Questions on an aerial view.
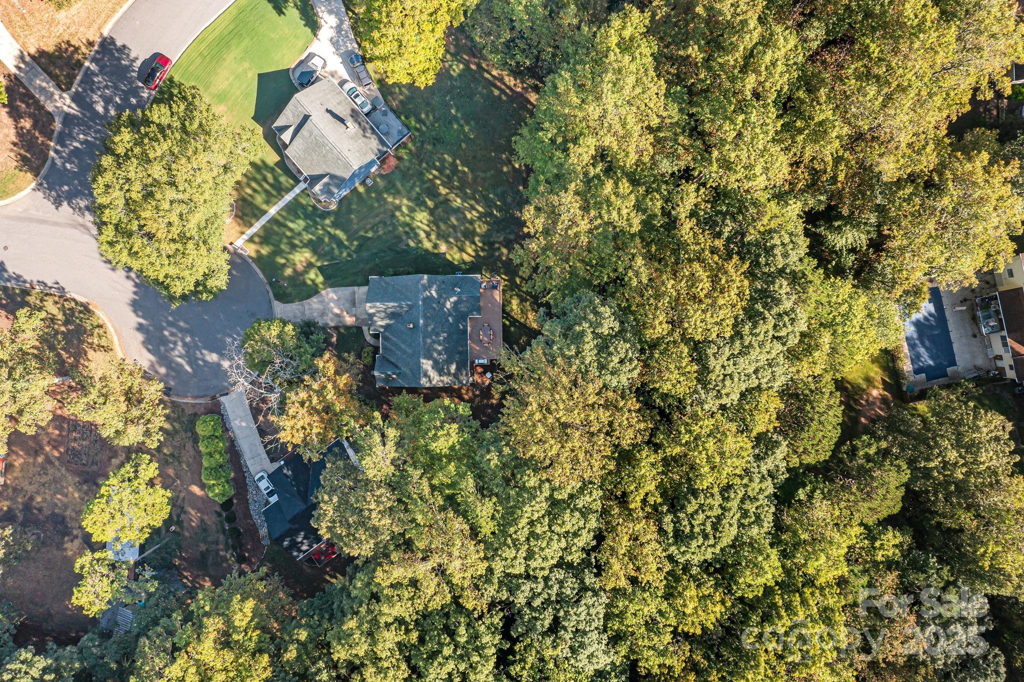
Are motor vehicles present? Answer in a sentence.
Yes, a motor vehicle appears in the view.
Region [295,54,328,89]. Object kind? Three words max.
car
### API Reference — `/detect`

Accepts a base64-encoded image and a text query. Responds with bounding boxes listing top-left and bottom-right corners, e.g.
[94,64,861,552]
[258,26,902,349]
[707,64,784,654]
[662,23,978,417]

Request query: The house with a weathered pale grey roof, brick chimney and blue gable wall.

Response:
[272,76,392,206]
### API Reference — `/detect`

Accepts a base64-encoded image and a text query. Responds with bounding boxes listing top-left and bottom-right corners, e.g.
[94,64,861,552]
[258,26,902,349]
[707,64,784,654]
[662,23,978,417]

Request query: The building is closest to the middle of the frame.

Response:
[365,273,481,388]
